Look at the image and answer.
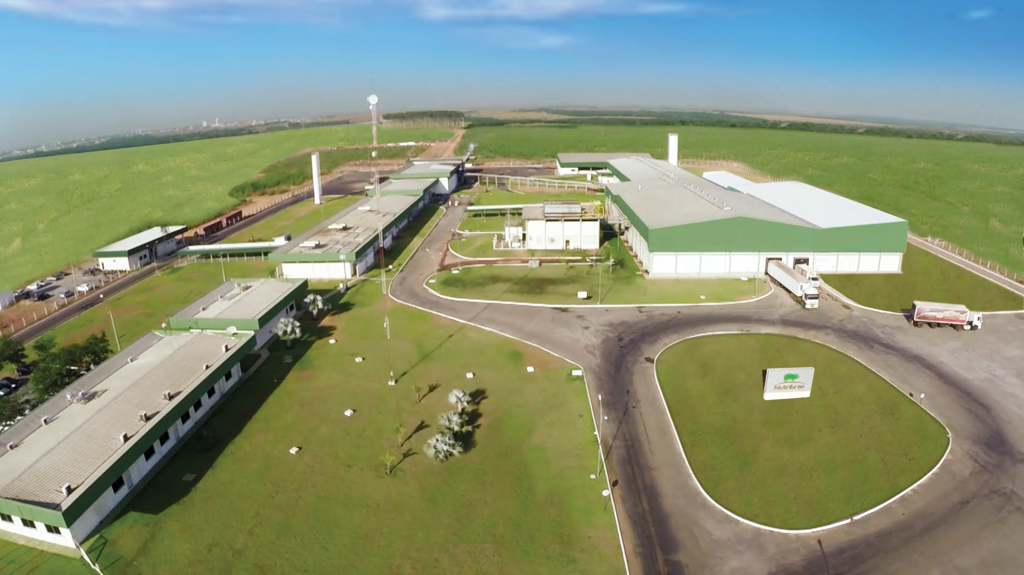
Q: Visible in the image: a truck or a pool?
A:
truck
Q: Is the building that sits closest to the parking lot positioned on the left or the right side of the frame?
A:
left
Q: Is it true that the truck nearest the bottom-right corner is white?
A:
Yes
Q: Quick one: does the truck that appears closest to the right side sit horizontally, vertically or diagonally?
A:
horizontally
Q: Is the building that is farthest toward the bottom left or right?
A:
left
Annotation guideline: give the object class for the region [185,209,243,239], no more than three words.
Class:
truck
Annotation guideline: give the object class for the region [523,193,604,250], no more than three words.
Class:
building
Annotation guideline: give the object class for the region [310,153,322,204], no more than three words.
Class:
water tower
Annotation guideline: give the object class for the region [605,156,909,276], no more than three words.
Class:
building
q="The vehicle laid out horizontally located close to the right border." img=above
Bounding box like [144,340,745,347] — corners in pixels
[912,299,985,331]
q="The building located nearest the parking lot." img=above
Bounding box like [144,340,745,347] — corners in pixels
[93,225,191,269]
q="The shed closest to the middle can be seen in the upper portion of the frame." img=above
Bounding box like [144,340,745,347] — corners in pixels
[491,210,526,250]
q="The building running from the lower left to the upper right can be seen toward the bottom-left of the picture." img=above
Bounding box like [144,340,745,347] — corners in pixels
[0,329,259,548]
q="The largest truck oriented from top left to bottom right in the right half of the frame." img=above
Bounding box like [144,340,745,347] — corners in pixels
[769,257,825,305]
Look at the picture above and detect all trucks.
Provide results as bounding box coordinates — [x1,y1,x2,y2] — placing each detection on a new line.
[796,261,830,289]
[185,209,243,239]
[912,299,985,331]
[769,257,825,305]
